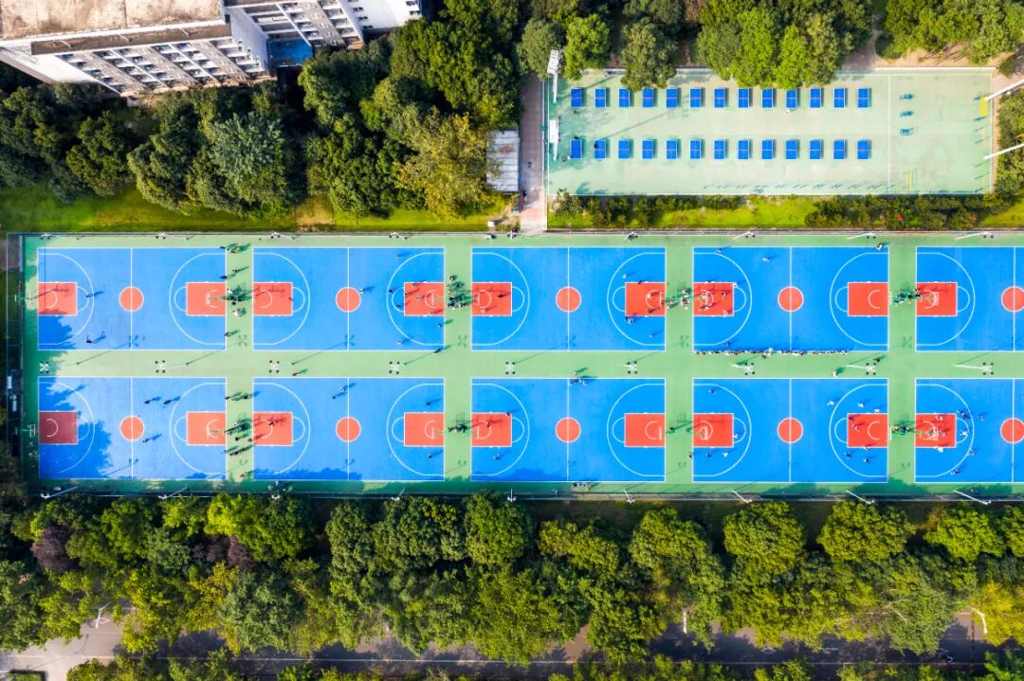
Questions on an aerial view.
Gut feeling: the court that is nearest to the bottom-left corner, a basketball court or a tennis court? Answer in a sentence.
The court that is nearest to the bottom-left corner in the image is a basketball court.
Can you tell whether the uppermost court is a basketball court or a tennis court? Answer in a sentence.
I'd say the uppermost court is a tennis court.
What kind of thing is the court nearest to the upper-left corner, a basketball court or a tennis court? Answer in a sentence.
The court nearest to the upper-left corner can be classified as a basketball court.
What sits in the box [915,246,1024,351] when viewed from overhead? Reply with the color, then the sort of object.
blue basketball court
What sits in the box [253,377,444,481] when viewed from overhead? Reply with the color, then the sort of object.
blue basketball court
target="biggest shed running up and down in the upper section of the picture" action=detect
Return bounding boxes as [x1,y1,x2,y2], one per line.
[488,128,519,193]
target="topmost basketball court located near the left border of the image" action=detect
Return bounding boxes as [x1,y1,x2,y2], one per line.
[38,247,226,350]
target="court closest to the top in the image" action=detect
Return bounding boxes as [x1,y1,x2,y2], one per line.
[547,65,995,197]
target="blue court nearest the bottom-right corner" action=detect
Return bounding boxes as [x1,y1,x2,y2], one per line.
[915,379,1024,484]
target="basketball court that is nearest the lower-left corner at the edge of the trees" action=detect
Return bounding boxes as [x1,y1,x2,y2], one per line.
[38,377,227,480]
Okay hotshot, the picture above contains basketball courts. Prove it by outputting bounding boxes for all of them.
[253,247,444,350]
[692,378,889,483]
[693,246,889,351]
[38,377,227,480]
[471,378,665,482]
[38,247,226,350]
[915,379,1024,484]
[253,377,444,481]
[472,246,666,351]
[915,246,1024,351]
